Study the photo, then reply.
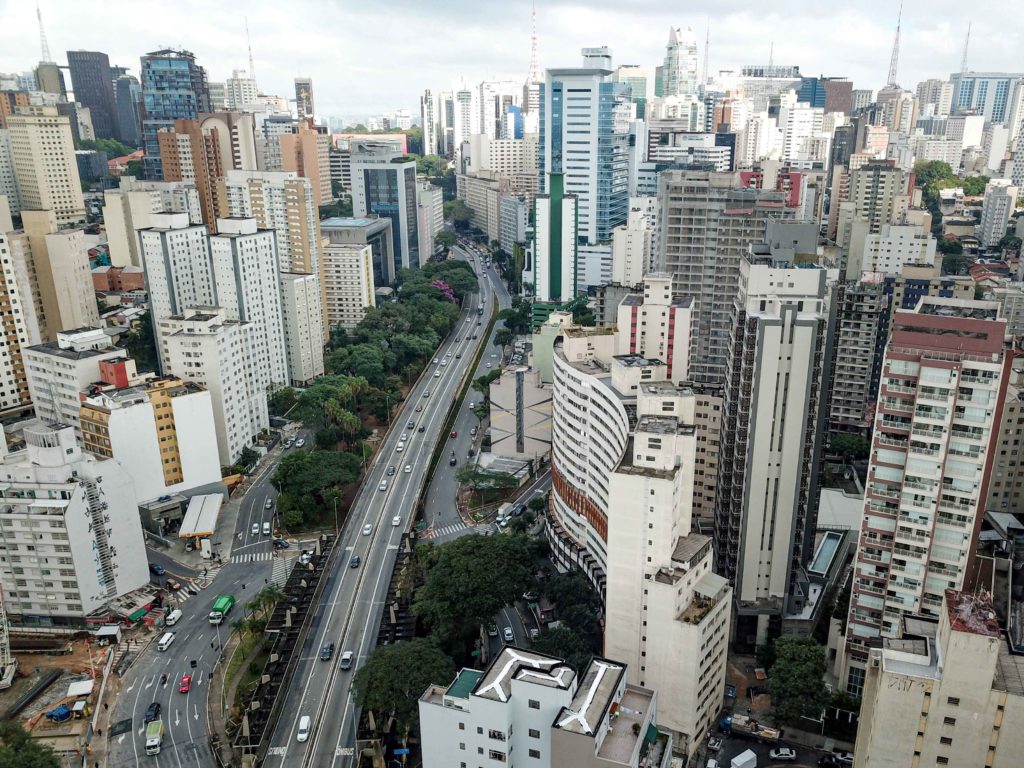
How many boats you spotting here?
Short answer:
zero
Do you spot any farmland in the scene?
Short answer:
No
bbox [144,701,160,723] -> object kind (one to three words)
car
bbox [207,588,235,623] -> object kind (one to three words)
truck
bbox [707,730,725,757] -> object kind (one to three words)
vehicle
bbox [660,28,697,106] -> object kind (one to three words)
building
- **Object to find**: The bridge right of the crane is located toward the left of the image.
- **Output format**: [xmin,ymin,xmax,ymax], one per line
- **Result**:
[253,291,496,768]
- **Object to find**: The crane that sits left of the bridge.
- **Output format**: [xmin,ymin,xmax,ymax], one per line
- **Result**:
[0,605,33,703]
